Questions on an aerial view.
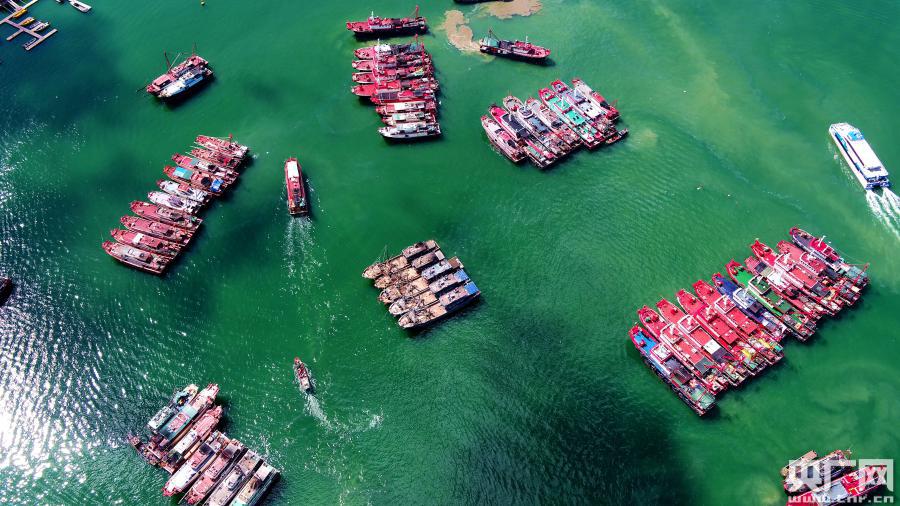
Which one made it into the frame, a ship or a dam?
ship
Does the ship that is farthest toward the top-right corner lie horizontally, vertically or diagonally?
diagonally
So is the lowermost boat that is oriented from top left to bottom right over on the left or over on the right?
left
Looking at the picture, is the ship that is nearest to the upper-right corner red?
No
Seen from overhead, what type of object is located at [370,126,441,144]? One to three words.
boat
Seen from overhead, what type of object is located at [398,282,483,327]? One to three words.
boat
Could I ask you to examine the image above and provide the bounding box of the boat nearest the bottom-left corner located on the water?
[128,435,167,473]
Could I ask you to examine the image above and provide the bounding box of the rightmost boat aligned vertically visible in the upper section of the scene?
[283,157,308,220]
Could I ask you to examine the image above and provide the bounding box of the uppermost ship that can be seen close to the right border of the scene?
[826,124,889,192]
